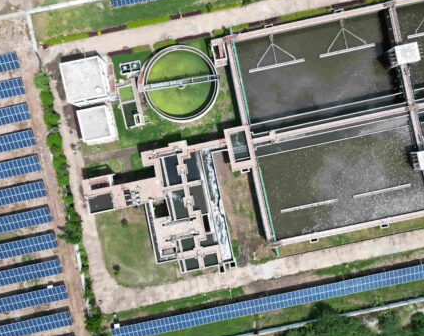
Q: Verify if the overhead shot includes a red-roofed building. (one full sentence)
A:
No, there isn't any red-roofed building down there.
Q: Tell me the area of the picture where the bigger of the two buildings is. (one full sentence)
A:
The bigger of the two buildings is in the top left part of the image.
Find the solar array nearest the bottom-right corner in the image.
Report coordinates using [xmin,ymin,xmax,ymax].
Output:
[112,266,424,336]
